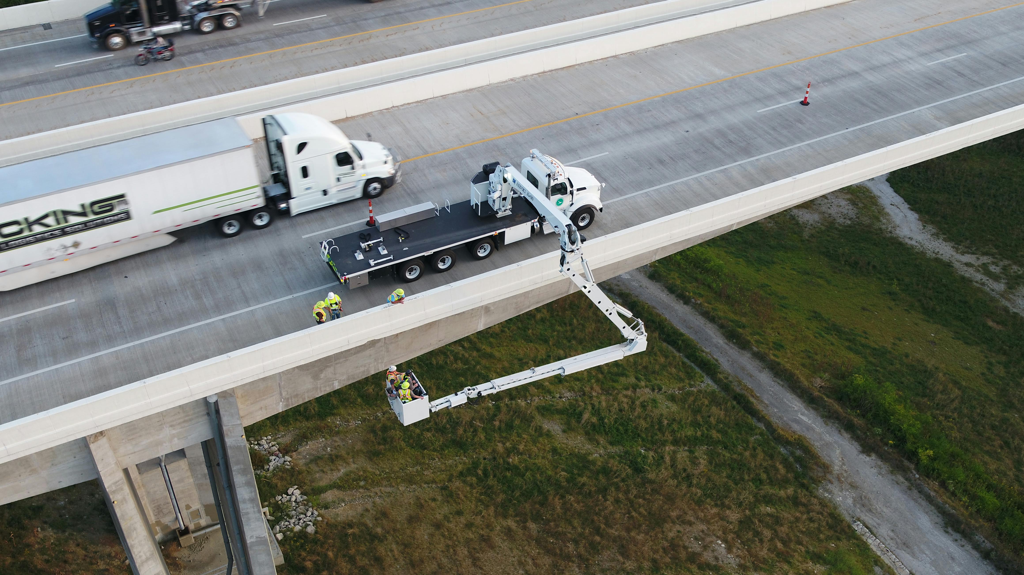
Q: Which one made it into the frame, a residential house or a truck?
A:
truck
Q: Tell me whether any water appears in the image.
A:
No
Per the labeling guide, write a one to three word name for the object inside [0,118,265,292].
trailer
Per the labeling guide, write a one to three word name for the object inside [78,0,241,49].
truck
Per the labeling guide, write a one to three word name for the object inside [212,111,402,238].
truck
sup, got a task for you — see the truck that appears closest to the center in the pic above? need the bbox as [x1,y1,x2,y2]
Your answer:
[315,148,647,426]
